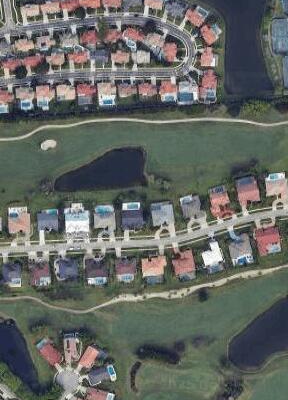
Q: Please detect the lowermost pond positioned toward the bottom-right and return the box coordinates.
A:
[228,296,288,369]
